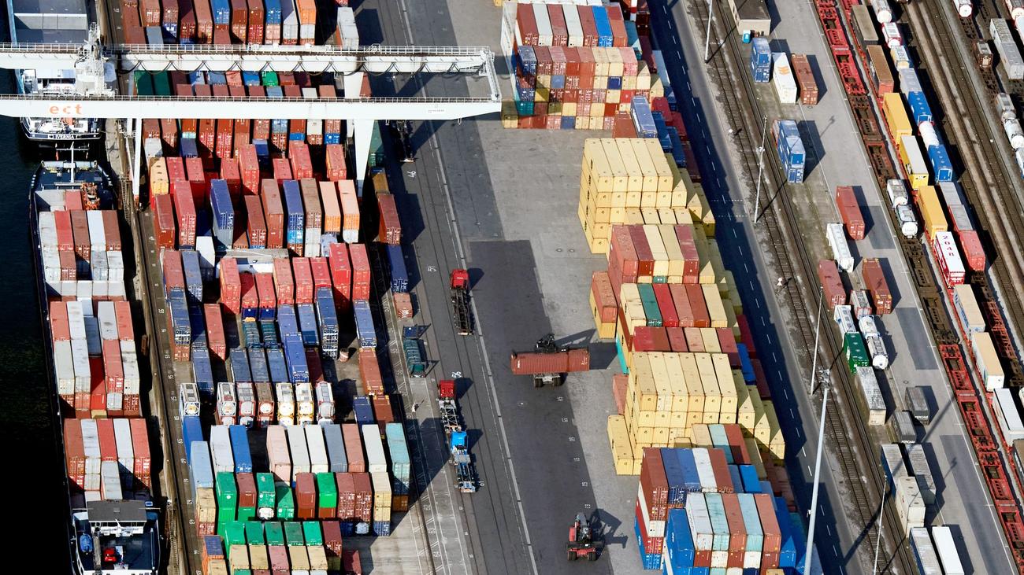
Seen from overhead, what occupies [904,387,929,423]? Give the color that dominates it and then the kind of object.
gray shipping container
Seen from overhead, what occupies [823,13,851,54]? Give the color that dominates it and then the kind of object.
red rail car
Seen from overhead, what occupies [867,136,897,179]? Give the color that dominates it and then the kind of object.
red rail car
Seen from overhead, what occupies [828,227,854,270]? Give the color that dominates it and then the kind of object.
white shipping container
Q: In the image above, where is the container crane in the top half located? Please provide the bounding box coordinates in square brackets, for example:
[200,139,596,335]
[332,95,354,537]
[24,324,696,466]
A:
[0,0,502,205]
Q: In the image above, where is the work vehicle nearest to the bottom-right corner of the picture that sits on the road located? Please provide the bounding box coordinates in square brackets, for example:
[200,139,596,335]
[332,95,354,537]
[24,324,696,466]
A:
[562,510,606,558]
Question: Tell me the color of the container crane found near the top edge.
white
